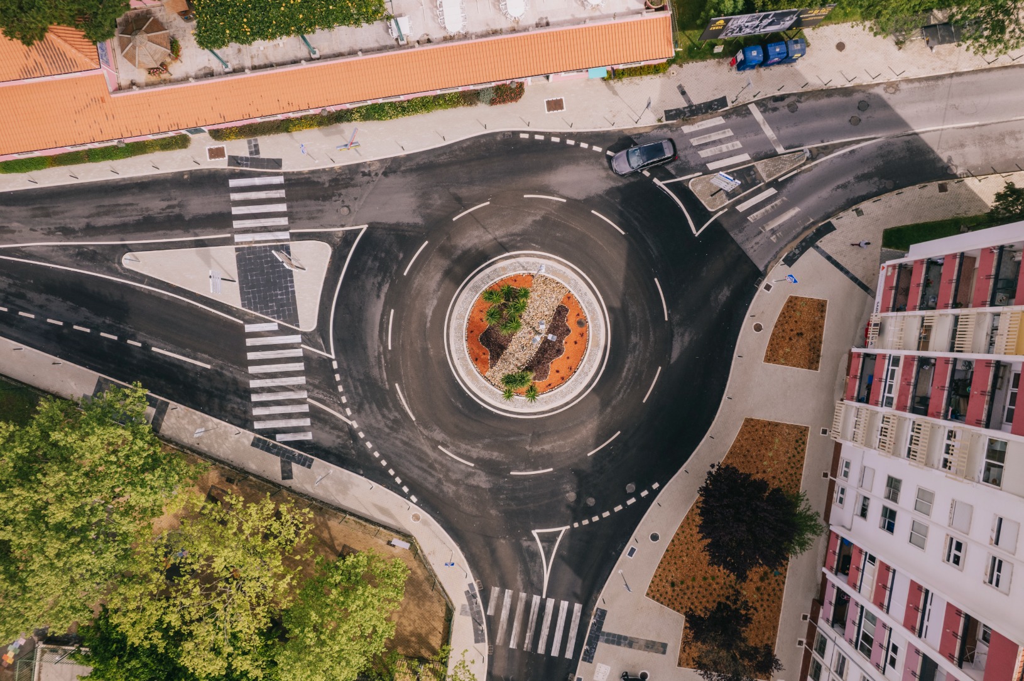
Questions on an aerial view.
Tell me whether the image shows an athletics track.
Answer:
No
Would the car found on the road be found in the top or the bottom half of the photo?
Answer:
top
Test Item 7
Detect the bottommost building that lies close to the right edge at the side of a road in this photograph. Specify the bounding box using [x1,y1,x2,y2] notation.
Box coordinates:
[800,221,1024,681]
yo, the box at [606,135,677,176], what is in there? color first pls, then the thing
gray car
